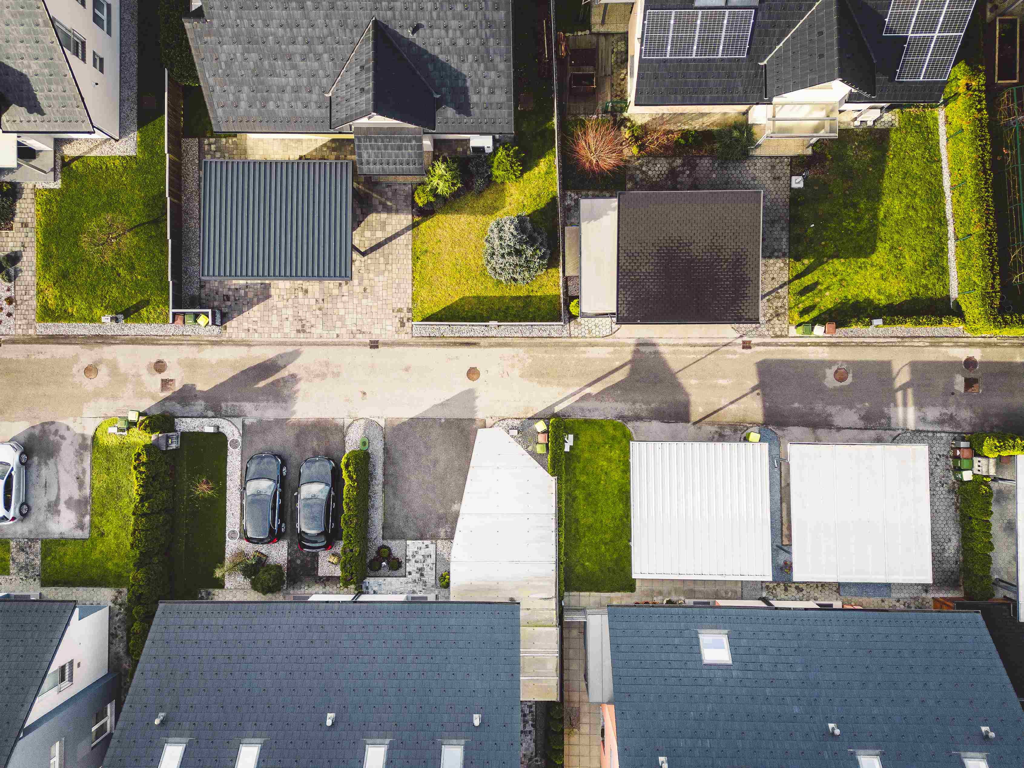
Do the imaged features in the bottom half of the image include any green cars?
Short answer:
No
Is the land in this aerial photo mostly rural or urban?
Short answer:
urban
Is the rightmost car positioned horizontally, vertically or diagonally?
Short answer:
vertically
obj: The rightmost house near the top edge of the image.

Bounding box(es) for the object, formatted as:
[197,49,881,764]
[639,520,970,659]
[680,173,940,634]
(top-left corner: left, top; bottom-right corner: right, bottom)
[628,0,983,144]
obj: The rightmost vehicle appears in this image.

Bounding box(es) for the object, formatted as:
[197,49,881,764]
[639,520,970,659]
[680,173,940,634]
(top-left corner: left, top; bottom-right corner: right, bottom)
[295,455,341,551]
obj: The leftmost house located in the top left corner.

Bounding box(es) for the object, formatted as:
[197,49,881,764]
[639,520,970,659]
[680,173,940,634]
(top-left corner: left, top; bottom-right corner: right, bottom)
[0,0,120,174]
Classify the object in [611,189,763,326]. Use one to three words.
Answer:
building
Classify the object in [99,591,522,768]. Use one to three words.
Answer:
house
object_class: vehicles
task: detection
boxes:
[295,455,341,551]
[240,452,289,545]
[0,441,32,526]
